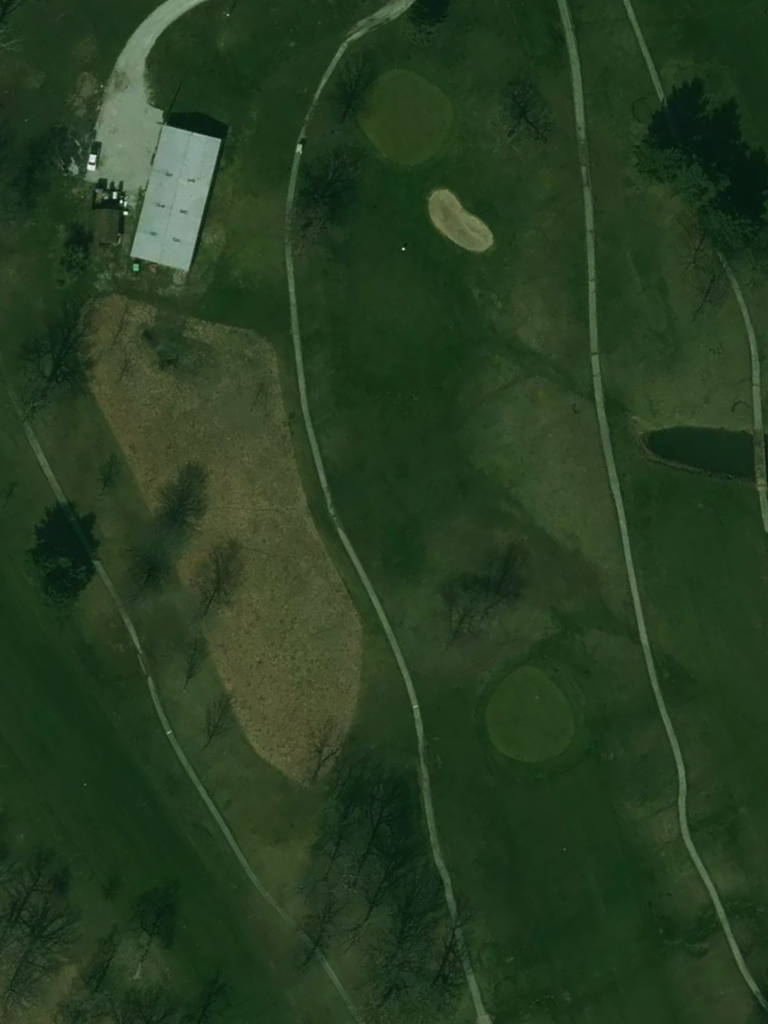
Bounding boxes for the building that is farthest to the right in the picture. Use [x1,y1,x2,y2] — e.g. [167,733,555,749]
[132,125,221,270]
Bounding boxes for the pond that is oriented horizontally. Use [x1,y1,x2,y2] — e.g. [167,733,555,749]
[641,425,768,482]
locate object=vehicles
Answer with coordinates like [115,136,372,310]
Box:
[103,192,109,202]
[296,143,302,152]
[88,148,97,171]
[95,187,104,206]
[112,190,118,200]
